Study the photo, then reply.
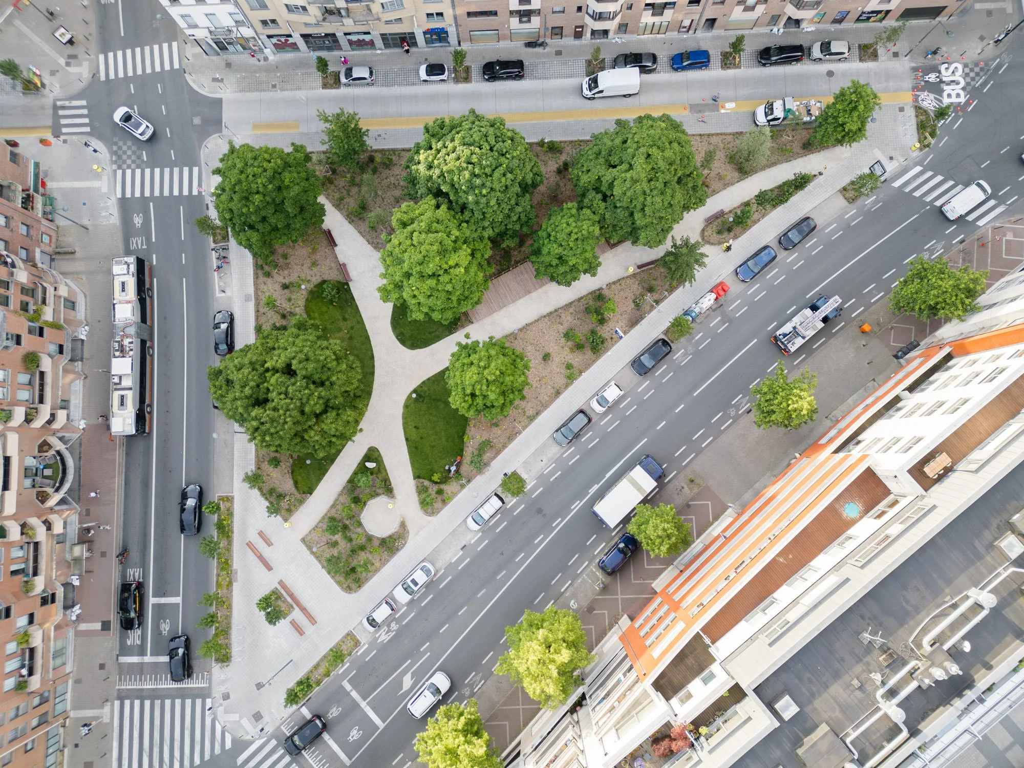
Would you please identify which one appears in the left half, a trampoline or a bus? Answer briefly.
bus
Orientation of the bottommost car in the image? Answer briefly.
diagonally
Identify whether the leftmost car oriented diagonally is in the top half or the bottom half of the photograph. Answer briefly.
top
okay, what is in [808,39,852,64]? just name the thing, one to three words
car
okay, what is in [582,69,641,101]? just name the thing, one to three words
van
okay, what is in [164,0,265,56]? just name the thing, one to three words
house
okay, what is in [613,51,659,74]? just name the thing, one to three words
car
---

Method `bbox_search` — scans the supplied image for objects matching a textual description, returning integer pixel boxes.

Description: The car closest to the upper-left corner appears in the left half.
[114,104,158,148]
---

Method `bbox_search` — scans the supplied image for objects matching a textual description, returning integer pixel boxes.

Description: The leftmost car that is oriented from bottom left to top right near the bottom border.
[283,711,330,757]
